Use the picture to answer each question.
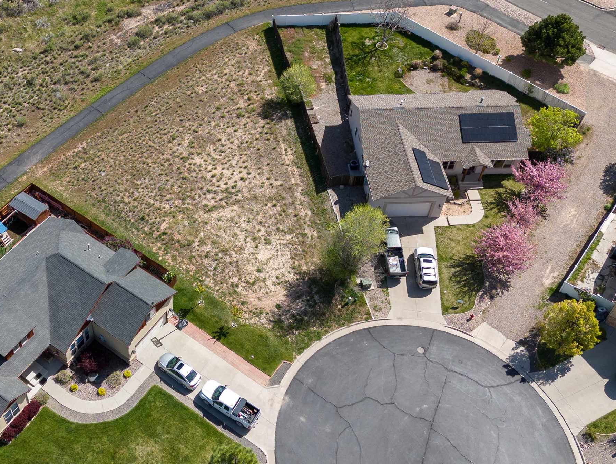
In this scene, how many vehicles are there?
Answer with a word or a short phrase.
4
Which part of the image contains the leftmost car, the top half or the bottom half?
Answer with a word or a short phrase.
bottom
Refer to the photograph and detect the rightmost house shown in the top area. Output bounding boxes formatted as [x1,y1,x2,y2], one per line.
[347,91,535,218]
